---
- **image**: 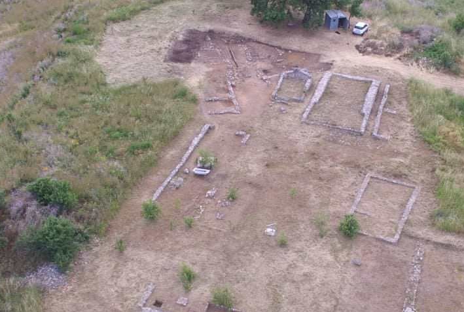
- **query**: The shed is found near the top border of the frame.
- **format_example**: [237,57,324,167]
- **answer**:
[323,12,352,31]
